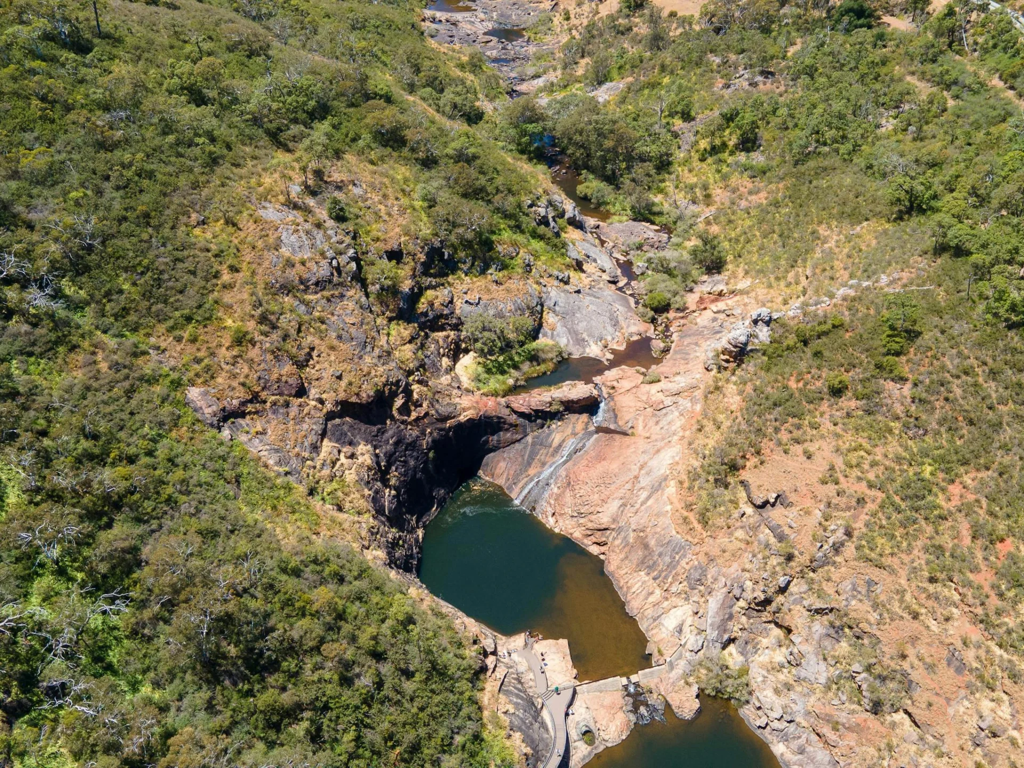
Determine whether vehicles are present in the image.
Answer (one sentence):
No, this view has no vehicle in it.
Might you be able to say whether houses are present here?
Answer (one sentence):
No, there appears to be no house in this shot.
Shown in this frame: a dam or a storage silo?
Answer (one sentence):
I can see a dam in this picture.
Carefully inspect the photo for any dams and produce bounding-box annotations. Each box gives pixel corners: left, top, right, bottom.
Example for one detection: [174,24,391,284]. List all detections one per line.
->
[574,637,691,694]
